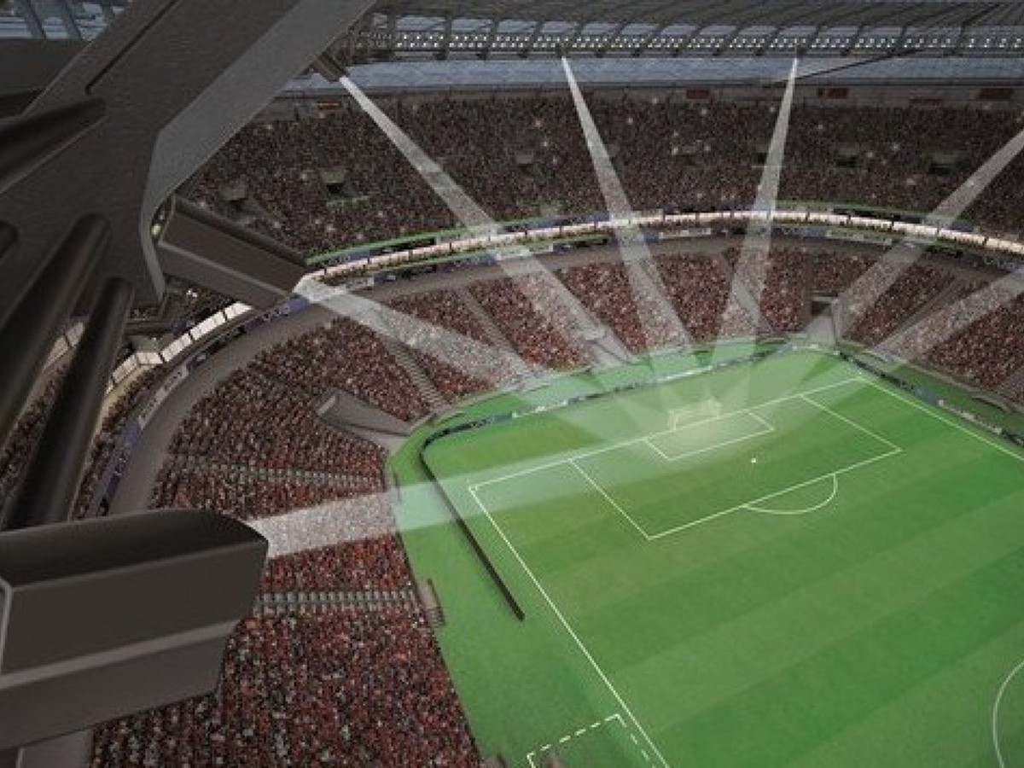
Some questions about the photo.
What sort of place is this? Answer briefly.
sports ground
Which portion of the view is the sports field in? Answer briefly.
bottom right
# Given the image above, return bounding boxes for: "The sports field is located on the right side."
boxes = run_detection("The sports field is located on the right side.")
[470,376,1024,768]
